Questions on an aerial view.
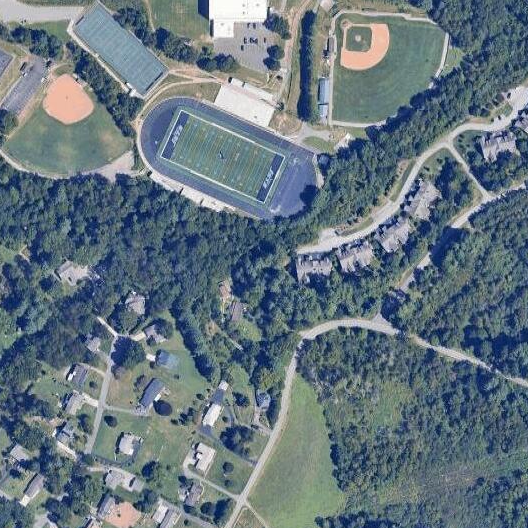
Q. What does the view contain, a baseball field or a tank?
baseball field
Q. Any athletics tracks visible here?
Yes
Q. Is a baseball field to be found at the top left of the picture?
Yes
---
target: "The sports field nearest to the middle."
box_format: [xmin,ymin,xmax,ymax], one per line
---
[155,102,291,210]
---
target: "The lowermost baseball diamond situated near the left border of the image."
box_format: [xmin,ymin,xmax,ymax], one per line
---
[6,70,134,174]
